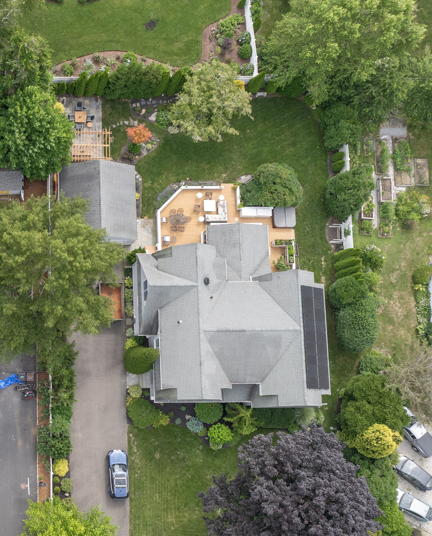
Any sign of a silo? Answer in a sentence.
No, the scene contains no silo.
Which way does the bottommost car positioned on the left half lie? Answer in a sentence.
The bottommost car positioned on the left half runs vertically in the image.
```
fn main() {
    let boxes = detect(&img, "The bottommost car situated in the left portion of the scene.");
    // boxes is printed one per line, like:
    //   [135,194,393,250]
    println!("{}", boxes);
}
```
[106,449,131,502]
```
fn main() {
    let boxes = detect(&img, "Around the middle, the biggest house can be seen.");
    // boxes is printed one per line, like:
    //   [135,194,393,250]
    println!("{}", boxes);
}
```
[132,223,332,409]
